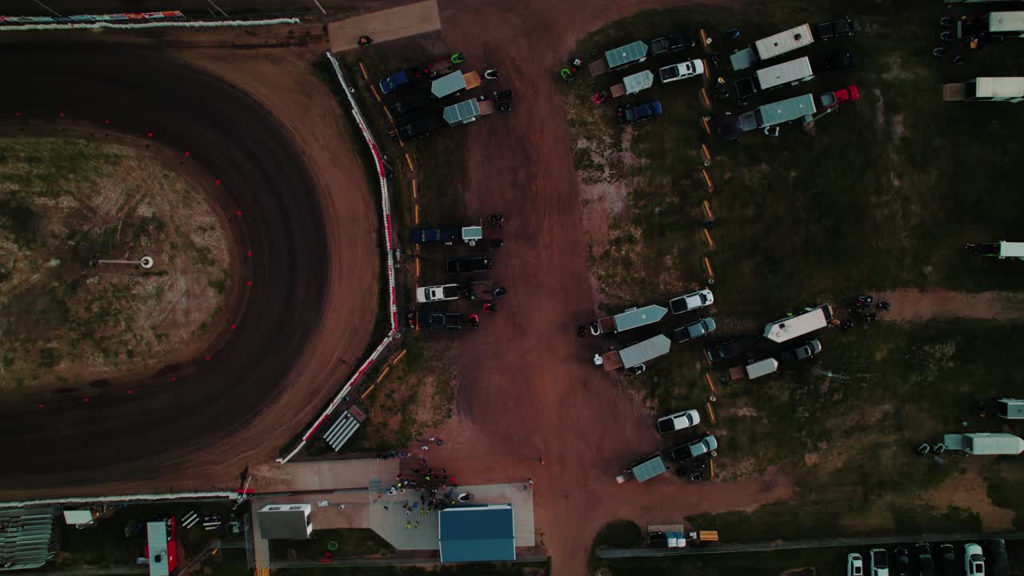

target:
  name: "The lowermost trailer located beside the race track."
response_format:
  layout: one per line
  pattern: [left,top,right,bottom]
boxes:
[146,512,185,576]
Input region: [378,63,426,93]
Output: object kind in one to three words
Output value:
truck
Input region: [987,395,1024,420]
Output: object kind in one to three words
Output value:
trailer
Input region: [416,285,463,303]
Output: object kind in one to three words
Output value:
vehicle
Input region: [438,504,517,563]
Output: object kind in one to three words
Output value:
building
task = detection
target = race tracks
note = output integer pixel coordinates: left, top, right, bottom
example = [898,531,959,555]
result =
[0,24,377,503]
